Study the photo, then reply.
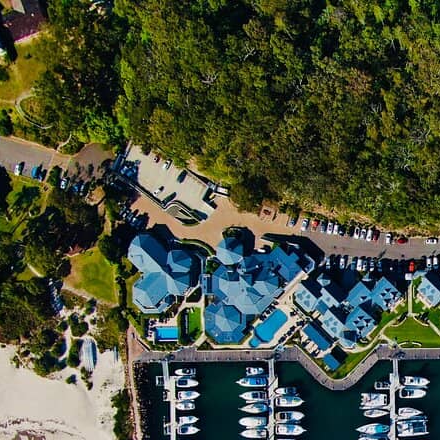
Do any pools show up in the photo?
Yes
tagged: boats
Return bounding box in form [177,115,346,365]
[179,416,198,424]
[246,367,262,375]
[402,376,431,386]
[275,412,304,423]
[238,391,269,400]
[275,424,307,435]
[177,391,200,399]
[239,429,268,438]
[274,388,300,396]
[364,409,389,418]
[399,389,427,398]
[174,368,197,375]
[276,396,305,407]
[177,379,198,388]
[355,423,390,434]
[175,403,196,410]
[375,381,390,389]
[397,421,428,436]
[177,426,201,434]
[398,407,423,417]
[360,393,387,406]
[235,377,268,387]
[238,418,268,427]
[238,403,269,413]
